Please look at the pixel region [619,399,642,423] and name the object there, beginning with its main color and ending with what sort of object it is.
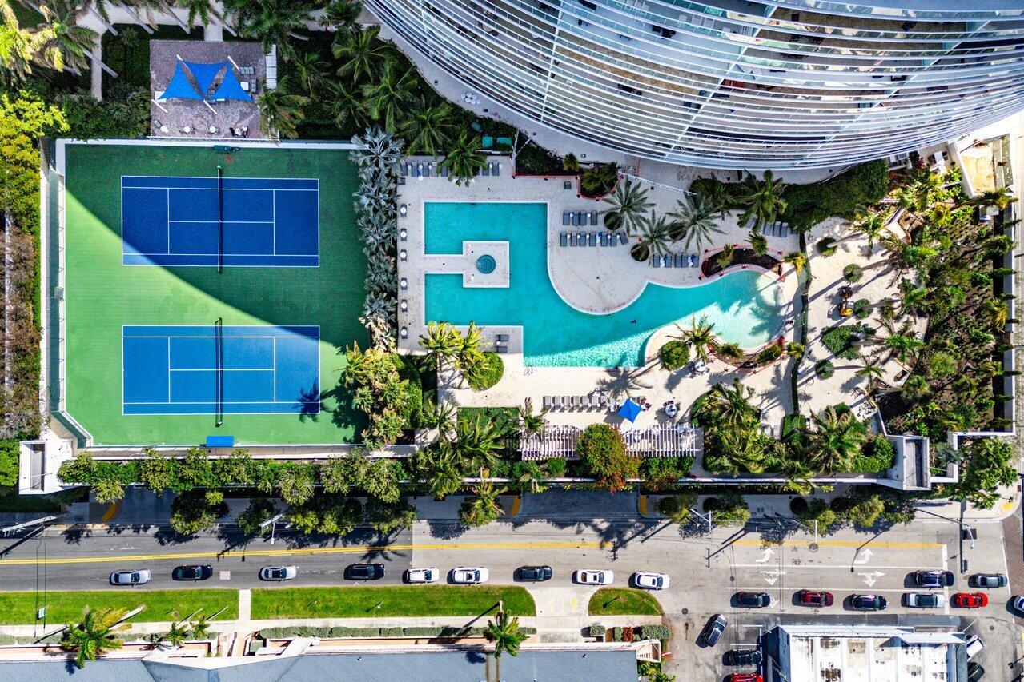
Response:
blue umbrella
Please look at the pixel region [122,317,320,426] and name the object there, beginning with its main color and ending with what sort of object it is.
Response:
blue tennis court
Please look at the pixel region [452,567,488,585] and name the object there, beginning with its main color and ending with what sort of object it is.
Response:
white car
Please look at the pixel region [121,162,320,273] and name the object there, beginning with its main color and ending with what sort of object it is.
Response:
blue tennis court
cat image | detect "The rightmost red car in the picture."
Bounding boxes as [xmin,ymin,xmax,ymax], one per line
[953,592,988,610]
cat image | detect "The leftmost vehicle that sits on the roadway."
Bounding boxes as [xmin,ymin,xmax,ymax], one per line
[112,569,151,586]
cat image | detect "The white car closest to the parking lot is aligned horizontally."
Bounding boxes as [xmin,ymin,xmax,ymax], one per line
[634,572,671,591]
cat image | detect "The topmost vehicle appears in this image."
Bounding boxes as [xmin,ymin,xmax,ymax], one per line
[837,280,853,307]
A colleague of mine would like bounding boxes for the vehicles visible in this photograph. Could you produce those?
[404,567,440,585]
[837,280,853,307]
[175,565,213,582]
[1008,593,1024,611]
[725,649,762,667]
[634,572,671,591]
[577,569,614,587]
[699,612,727,650]
[734,592,772,610]
[112,569,151,586]
[971,572,1010,590]
[953,592,988,610]
[261,566,299,583]
[517,565,554,583]
[798,590,836,609]
[904,592,942,610]
[348,563,385,581]
[850,594,888,613]
[452,567,488,585]
[967,656,991,682]
[913,570,954,589]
